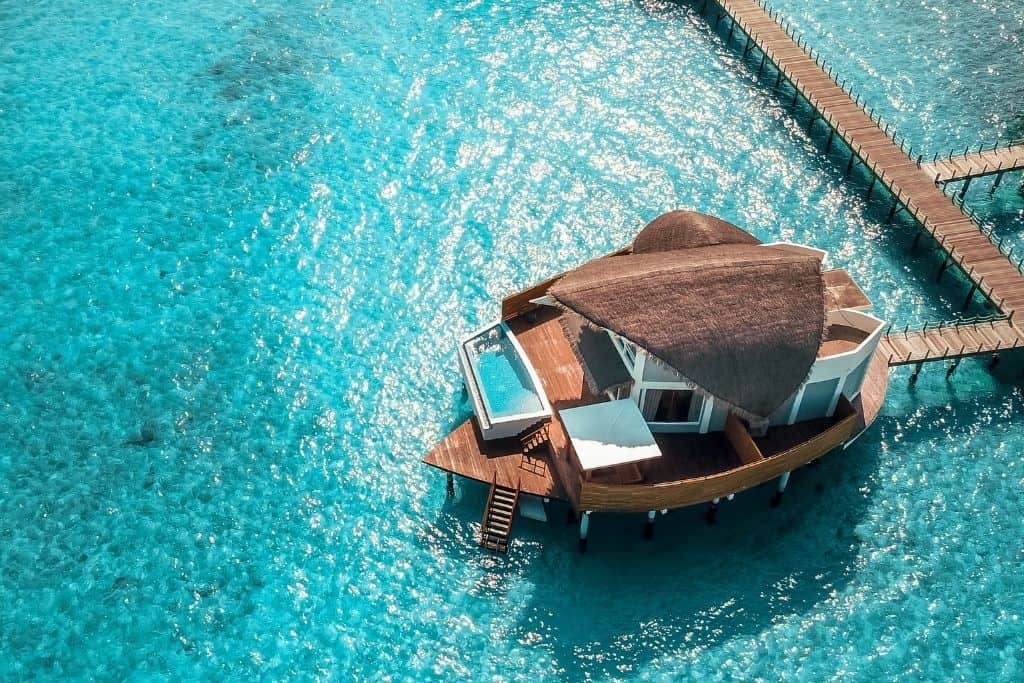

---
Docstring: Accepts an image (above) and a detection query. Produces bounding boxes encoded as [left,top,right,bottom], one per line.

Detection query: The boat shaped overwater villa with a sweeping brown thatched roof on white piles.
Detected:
[503,209,890,547]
